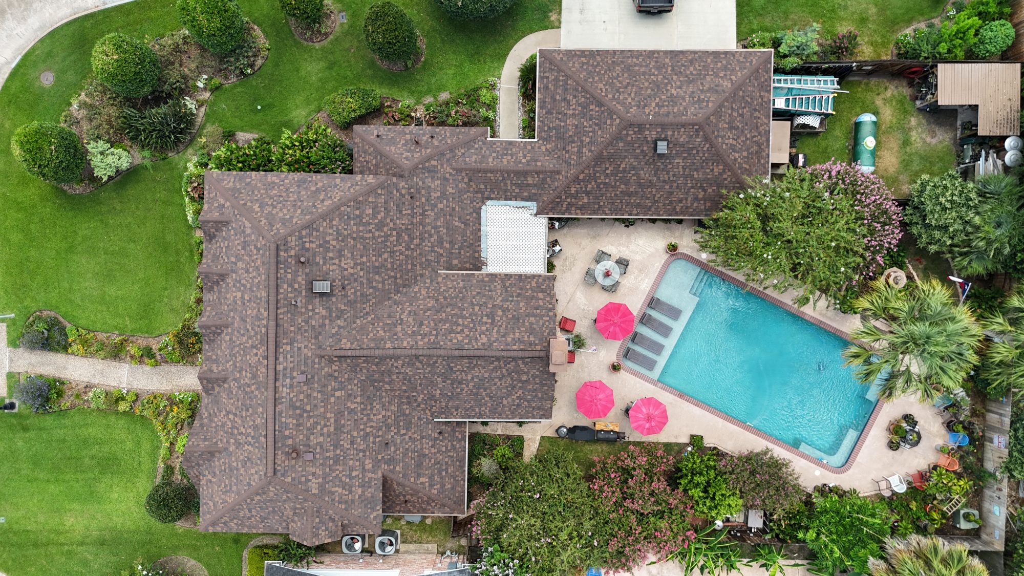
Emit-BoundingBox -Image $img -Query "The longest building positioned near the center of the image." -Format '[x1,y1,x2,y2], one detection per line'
[181,48,774,546]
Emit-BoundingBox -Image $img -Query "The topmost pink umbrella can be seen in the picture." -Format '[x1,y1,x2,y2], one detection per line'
[594,301,633,340]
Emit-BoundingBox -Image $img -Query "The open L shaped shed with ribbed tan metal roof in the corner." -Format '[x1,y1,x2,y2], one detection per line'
[912,63,1021,144]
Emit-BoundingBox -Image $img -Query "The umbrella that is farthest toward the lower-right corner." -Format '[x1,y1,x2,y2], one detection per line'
[626,394,666,434]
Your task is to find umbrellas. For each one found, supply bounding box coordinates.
[626,394,666,434]
[594,301,633,340]
[574,378,613,417]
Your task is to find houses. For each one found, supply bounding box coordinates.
[181,48,774,546]
[253,553,473,576]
